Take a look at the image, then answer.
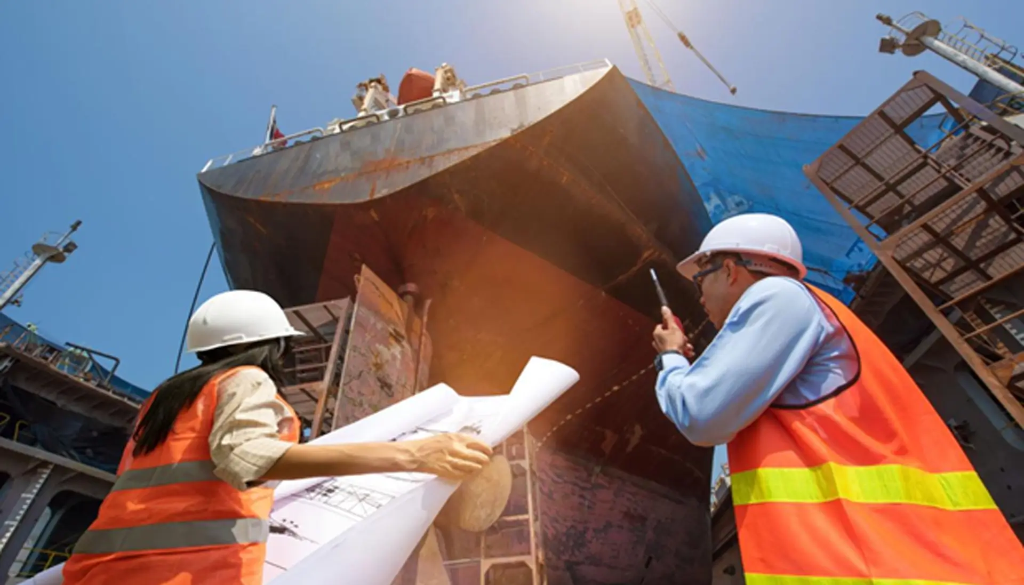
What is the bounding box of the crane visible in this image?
[613,0,738,96]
